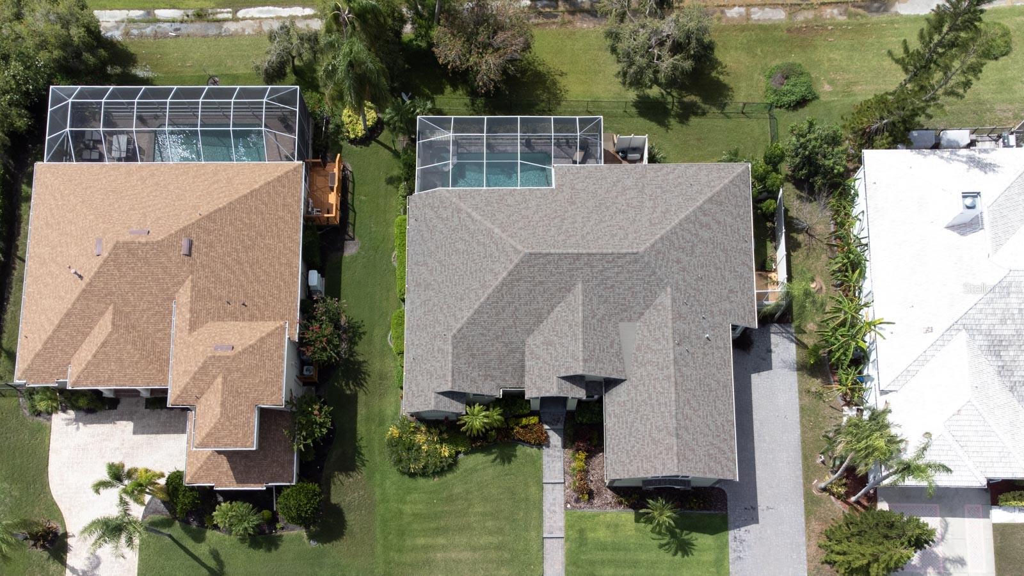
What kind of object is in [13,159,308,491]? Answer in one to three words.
house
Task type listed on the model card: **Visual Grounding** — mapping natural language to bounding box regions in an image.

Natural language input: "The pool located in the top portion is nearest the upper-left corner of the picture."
[148,120,267,161]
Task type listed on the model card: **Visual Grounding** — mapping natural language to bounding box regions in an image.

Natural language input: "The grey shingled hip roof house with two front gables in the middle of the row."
[400,162,761,489]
